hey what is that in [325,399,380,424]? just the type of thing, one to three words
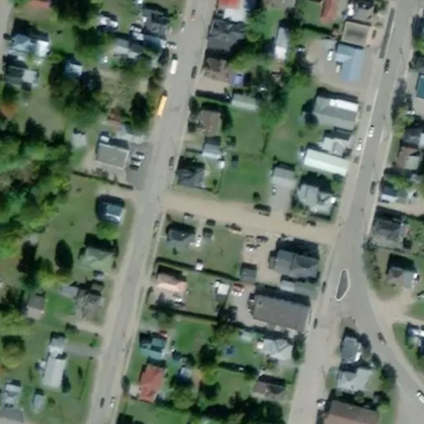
house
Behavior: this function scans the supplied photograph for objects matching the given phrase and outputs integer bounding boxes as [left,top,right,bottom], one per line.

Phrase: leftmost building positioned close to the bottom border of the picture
[0,380,22,408]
